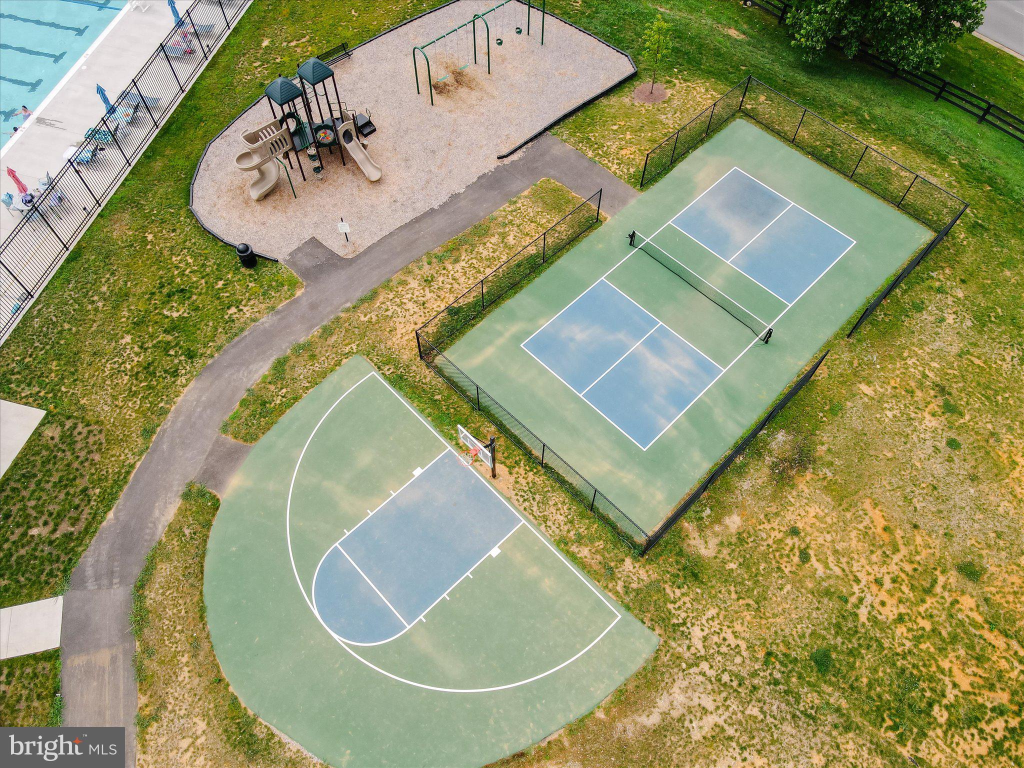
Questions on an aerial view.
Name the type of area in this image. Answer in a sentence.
The picture captures a sports ground.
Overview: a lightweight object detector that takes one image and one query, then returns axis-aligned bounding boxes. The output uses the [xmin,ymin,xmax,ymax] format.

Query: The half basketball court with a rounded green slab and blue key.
[204,355,659,768]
